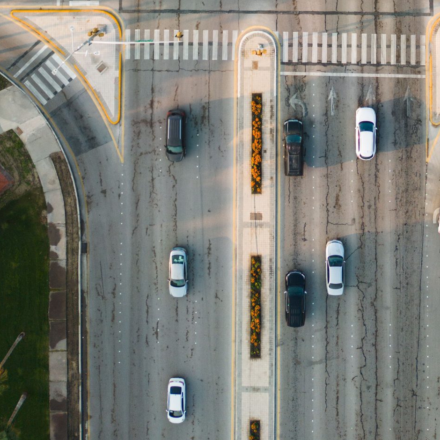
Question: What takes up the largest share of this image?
paved ground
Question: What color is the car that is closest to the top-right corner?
white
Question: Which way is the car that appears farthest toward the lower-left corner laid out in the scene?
from top to bottom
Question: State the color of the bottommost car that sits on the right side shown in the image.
black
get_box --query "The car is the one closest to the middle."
[167,247,188,295]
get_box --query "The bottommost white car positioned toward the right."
[324,239,346,294]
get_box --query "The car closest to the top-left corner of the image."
[164,109,186,160]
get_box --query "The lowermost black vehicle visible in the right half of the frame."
[283,270,307,328]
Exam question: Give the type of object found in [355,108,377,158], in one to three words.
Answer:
car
